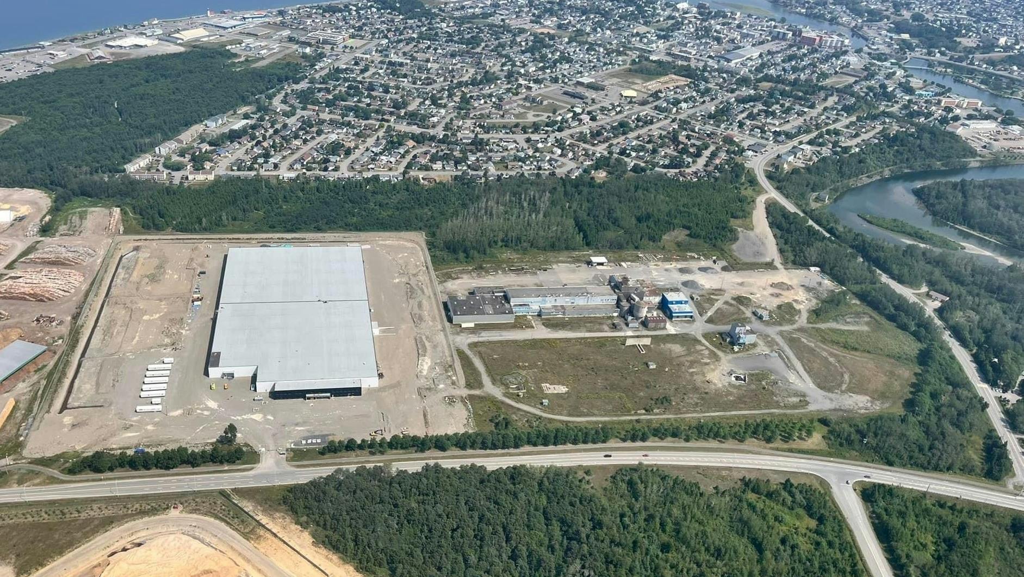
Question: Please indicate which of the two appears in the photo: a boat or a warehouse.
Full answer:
The image shows a warehouse.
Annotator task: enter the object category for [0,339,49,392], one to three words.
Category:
shed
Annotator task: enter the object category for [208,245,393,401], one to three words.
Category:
warehouse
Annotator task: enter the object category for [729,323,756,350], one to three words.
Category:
house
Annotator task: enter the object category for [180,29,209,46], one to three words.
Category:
building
